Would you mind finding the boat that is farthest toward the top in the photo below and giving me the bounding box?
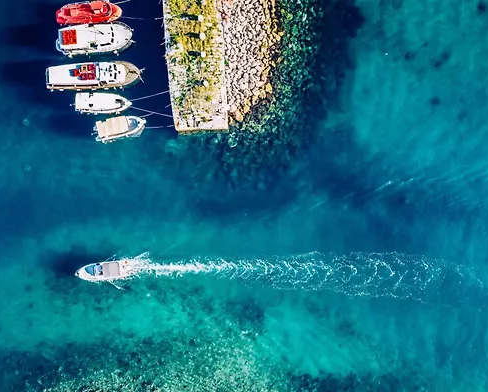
[56,0,124,26]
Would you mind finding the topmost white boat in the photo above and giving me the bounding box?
[55,19,137,58]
